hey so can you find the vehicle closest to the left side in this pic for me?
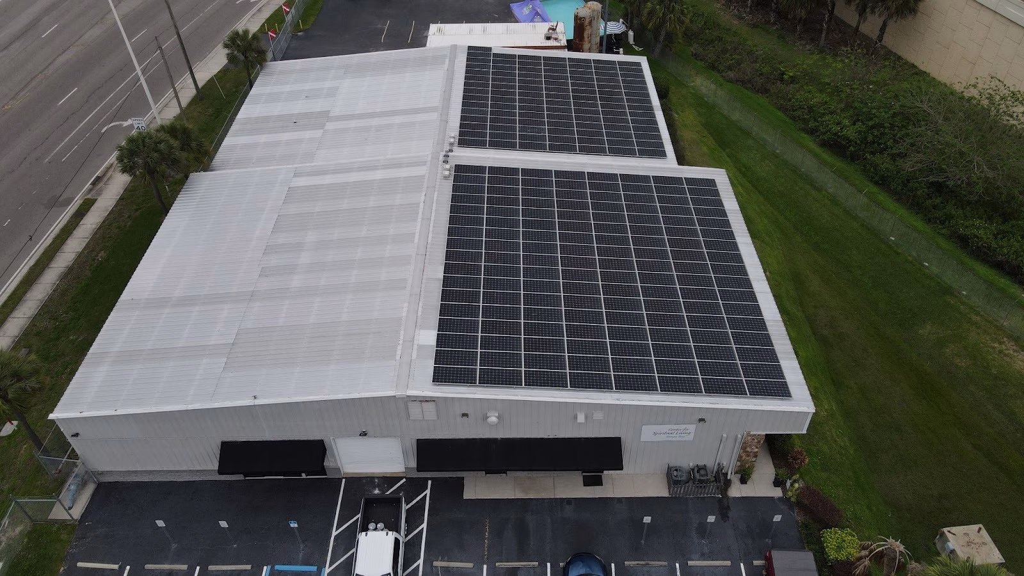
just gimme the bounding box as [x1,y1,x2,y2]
[350,498,407,576]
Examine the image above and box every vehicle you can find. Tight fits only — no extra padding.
[350,498,407,576]
[768,546,826,576]
[561,553,611,576]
